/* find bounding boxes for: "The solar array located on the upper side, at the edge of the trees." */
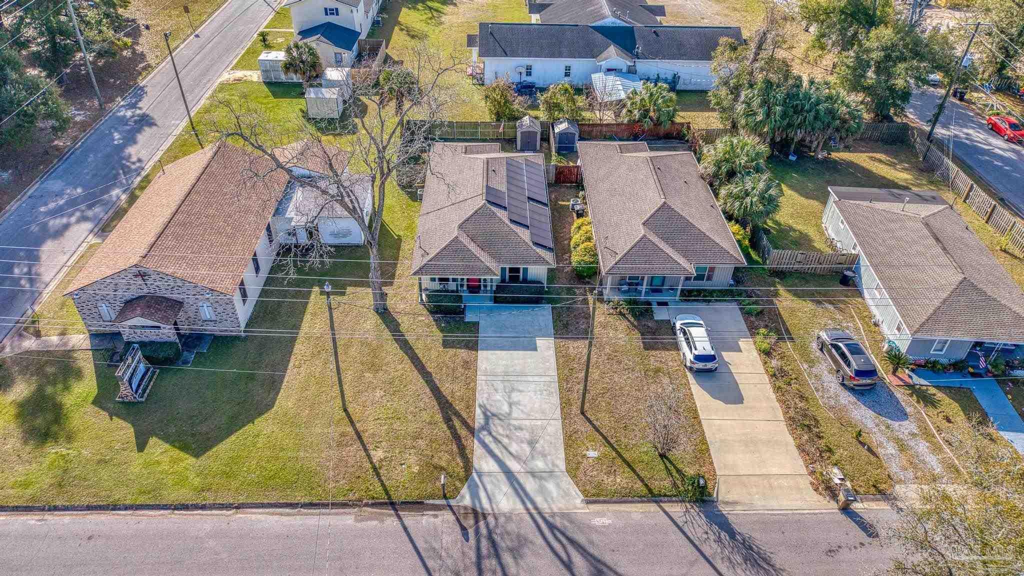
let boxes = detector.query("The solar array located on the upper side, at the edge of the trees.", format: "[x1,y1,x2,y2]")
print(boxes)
[485,160,553,251]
